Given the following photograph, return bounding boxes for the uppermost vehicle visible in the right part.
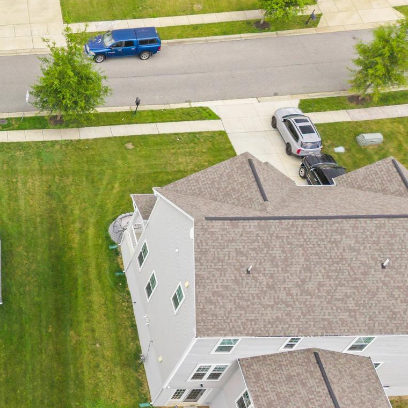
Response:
[269,107,324,161]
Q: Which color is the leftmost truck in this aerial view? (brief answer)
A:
blue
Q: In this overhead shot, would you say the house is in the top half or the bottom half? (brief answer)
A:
bottom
